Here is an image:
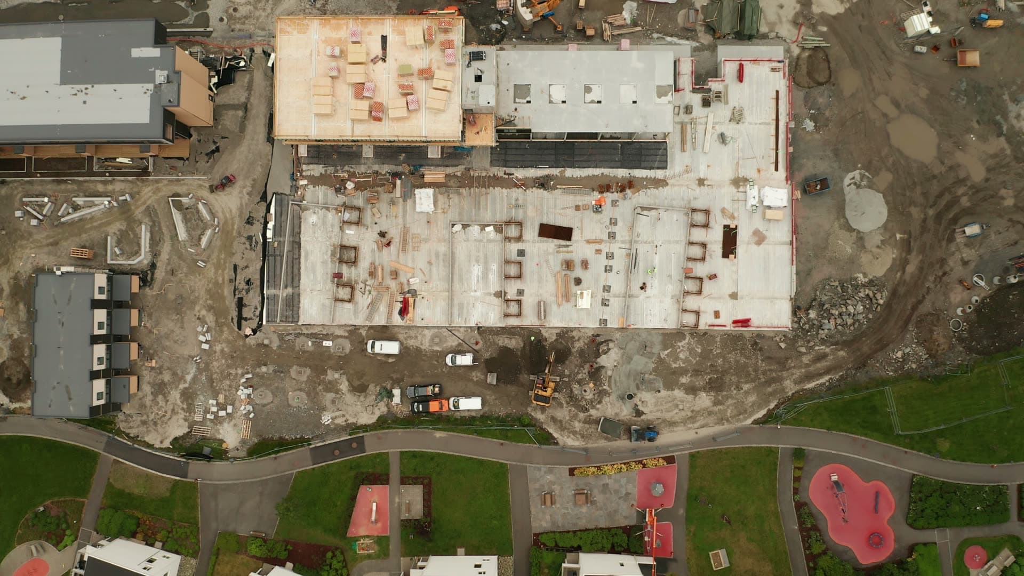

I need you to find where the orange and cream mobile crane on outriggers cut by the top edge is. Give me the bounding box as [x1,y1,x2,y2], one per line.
[515,0,563,34]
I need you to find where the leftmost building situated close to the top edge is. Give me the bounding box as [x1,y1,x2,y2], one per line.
[0,17,213,145]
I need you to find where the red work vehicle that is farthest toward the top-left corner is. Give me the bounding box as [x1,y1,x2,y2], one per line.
[205,174,233,195]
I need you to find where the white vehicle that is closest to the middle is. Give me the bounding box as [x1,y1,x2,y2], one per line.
[447,353,476,366]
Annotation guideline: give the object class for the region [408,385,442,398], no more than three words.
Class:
vehicle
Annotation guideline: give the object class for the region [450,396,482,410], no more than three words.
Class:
vehicle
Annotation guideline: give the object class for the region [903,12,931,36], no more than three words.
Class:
shed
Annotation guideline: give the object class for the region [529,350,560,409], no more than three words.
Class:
work vehicle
